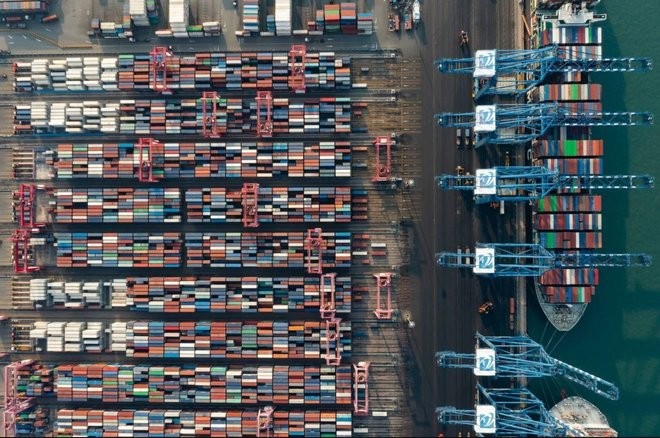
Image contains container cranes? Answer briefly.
Yes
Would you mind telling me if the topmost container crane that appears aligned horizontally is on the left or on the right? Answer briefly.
right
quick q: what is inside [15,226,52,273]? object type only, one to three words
container crane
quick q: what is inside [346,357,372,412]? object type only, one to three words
container crane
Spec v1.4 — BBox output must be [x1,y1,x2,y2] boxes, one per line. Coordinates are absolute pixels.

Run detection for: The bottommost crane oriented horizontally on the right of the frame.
[436,374,600,438]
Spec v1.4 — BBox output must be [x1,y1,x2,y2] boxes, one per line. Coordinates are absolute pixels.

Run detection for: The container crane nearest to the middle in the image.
[302,226,328,273]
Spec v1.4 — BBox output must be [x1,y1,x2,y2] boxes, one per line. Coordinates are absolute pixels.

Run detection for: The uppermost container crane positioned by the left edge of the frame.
[21,182,57,228]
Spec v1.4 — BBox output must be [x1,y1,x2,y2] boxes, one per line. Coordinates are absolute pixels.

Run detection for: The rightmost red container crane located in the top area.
[367,135,393,184]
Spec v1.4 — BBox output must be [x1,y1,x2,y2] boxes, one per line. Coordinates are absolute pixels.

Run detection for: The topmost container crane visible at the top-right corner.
[436,41,652,102]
